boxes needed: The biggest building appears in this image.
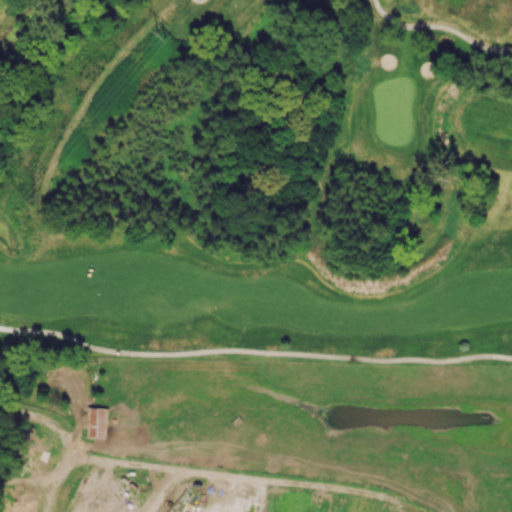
[87,408,108,442]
